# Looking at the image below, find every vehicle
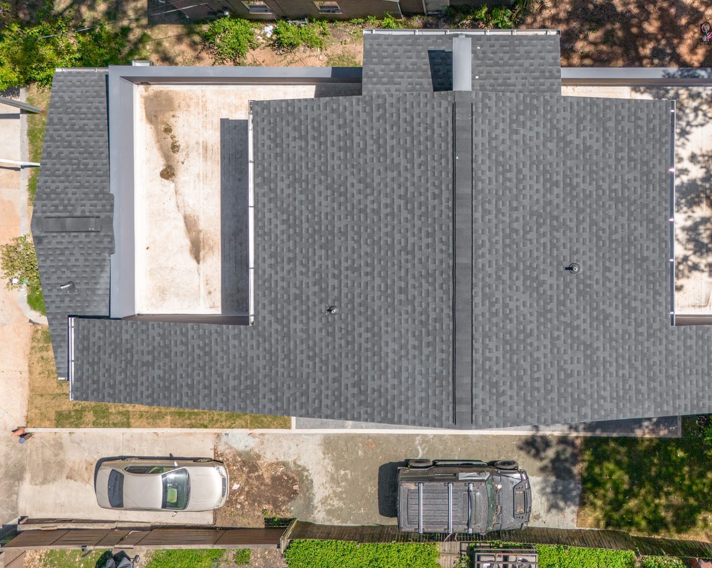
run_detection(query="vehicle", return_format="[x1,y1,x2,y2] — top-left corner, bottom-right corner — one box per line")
[94,456,233,520]
[396,456,533,535]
